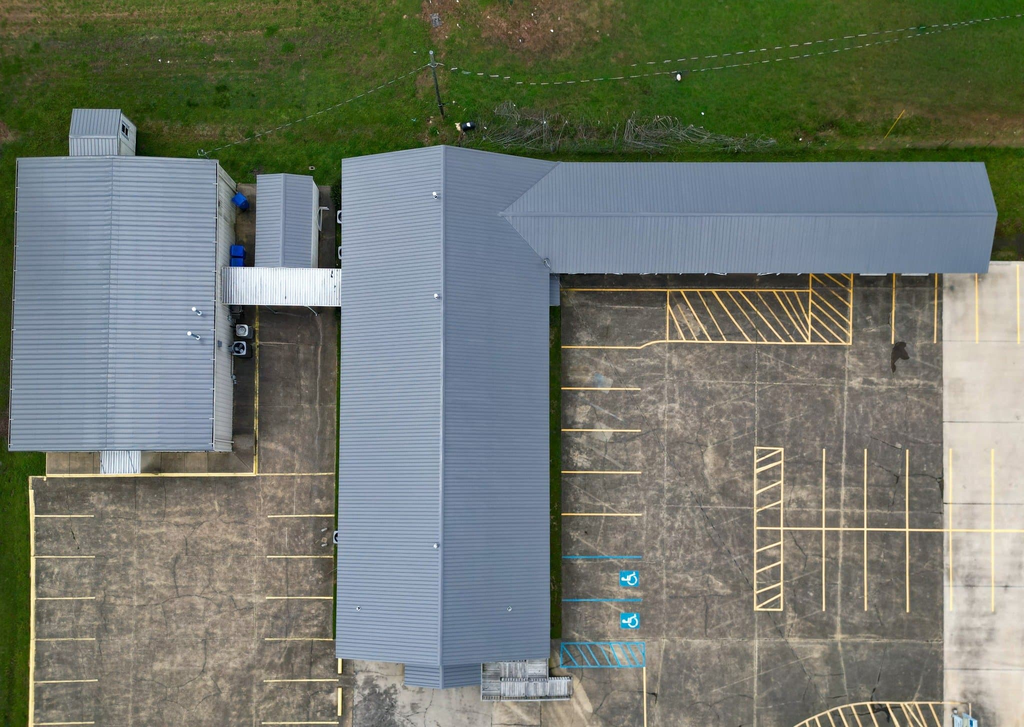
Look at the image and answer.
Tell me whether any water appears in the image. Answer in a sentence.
No, there's no water in this view.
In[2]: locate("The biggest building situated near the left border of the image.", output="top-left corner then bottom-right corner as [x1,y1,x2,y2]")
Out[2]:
[7,147,237,474]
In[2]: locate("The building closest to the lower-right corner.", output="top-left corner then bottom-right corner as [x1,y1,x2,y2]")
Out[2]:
[335,144,999,690]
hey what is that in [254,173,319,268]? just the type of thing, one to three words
shed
